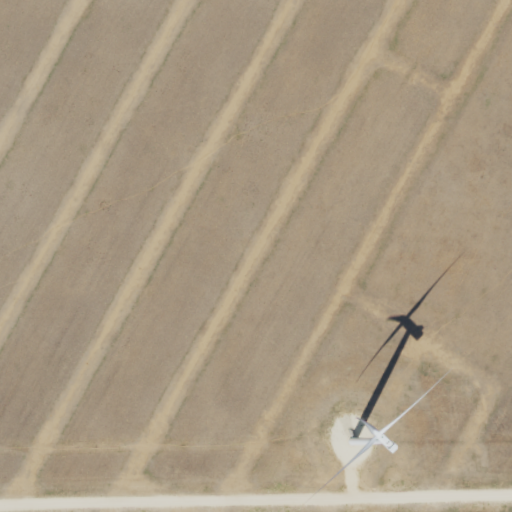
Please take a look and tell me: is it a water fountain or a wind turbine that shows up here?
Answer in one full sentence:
I can see a wind turbine in this picture.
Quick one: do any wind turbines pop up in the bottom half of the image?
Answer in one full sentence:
Yes, the scene does show a wind turbine in the bottom half of the image.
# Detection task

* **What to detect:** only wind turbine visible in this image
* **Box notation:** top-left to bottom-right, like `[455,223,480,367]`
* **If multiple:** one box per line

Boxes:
[324,365,450,492]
